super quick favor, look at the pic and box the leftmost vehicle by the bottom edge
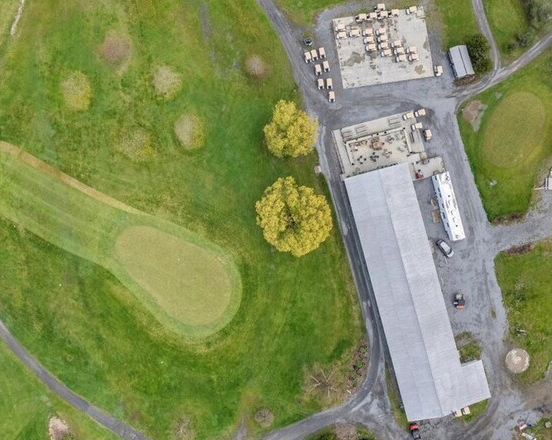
[409,423,421,440]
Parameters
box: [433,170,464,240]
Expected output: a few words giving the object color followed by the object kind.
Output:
white trailer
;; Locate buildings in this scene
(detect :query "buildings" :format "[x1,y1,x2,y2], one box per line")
[447,45,474,79]
[343,162,491,421]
